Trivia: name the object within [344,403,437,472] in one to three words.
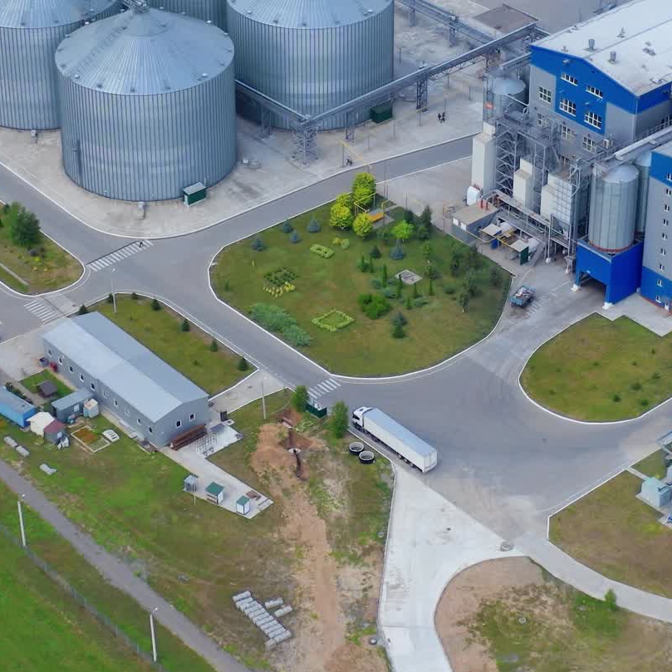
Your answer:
truck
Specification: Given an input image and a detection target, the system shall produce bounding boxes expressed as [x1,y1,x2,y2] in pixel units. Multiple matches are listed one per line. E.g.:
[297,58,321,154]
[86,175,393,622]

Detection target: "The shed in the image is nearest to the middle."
[308,389,335,416]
